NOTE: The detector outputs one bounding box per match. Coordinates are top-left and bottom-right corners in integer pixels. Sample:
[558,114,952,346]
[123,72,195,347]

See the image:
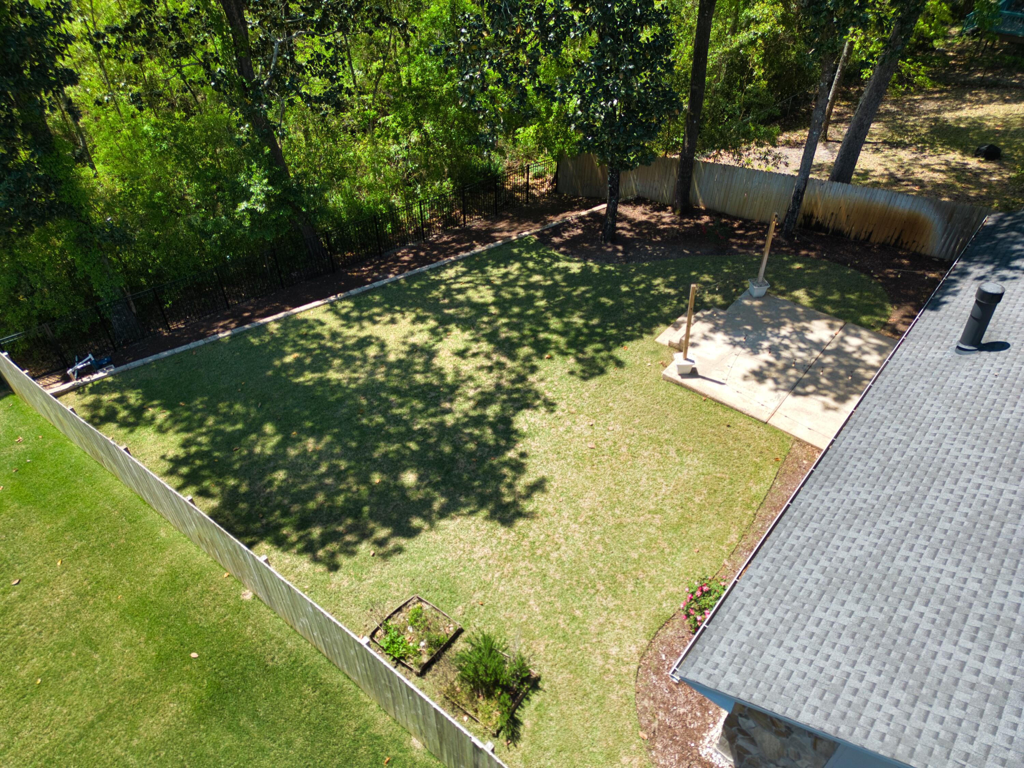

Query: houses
[666,213,1024,768]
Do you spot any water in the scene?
No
